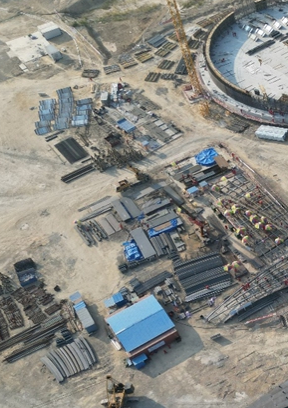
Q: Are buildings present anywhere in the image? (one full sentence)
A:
Yes, a building appears in the view.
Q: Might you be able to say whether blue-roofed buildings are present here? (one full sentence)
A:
Yes, a blue-roofed building is visible in the scene.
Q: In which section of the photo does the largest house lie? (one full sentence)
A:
Look in the bottom portion of the view to spot the largest house.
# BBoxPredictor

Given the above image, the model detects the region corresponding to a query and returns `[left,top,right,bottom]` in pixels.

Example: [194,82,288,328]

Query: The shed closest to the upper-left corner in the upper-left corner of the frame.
[37,23,63,41]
